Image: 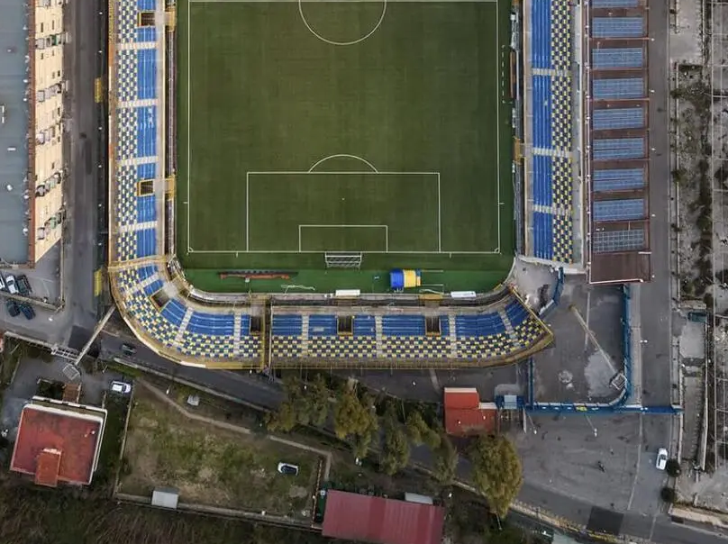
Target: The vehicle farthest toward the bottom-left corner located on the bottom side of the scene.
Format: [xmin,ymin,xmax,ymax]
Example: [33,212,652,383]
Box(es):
[109,382,130,395]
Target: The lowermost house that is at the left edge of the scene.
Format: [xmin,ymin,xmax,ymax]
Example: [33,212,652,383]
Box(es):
[11,396,109,487]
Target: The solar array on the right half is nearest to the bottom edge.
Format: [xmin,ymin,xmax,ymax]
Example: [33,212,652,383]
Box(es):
[594,229,645,252]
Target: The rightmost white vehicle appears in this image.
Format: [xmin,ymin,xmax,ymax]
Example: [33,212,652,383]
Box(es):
[657,451,669,472]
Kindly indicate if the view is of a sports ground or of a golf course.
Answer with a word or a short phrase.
sports ground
